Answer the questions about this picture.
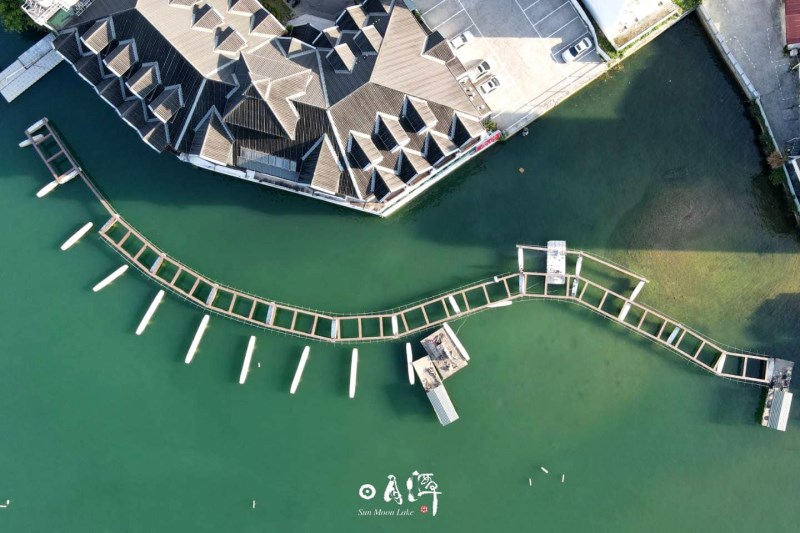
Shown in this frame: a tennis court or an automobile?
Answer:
automobile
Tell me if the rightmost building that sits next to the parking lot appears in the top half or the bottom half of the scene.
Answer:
top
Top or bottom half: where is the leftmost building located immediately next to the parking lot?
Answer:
top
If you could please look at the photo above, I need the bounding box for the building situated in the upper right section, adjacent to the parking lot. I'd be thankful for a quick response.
[587,0,686,51]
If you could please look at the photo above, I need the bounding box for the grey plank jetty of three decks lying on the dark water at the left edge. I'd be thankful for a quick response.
[0,34,67,104]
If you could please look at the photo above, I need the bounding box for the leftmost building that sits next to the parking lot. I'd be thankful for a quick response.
[50,0,505,216]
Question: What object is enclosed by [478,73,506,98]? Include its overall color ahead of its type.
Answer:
white car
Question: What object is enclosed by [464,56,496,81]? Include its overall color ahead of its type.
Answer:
white car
